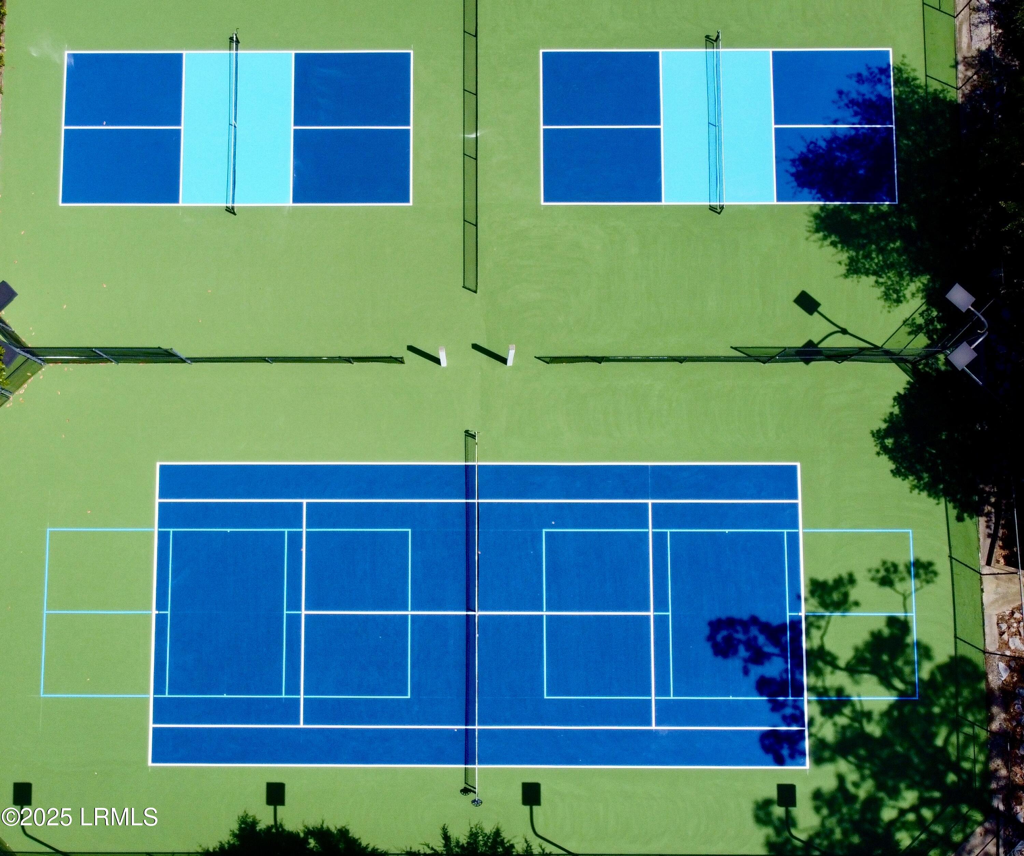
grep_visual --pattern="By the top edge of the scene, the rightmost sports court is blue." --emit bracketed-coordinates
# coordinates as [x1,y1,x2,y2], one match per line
[540,42,898,215]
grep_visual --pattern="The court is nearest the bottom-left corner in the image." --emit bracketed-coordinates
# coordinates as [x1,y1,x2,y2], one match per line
[41,528,411,698]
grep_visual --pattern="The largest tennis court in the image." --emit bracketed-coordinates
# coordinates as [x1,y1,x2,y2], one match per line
[148,453,809,769]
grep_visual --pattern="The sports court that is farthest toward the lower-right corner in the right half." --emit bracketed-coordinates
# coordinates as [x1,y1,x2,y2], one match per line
[544,529,918,700]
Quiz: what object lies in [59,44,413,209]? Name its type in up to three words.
sports court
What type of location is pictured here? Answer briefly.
sports ground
